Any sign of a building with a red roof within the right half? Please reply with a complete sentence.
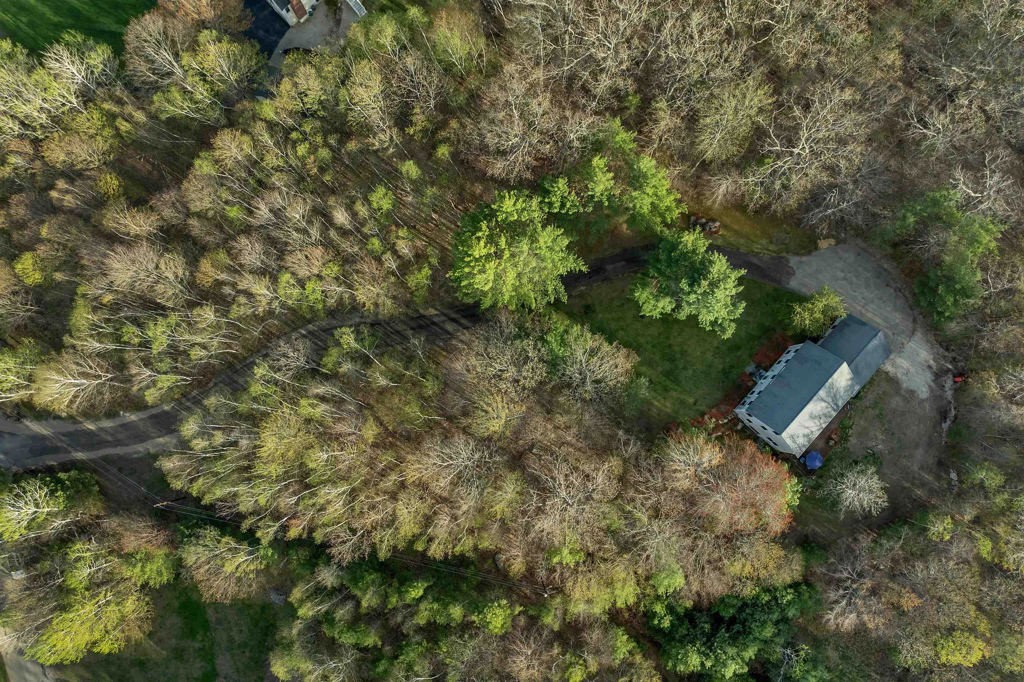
No, within the right half there is no building with a red roof.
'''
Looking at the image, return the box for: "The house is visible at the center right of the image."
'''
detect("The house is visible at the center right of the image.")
[734,311,898,461]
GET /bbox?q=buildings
[268,0,320,27]
[734,311,898,461]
